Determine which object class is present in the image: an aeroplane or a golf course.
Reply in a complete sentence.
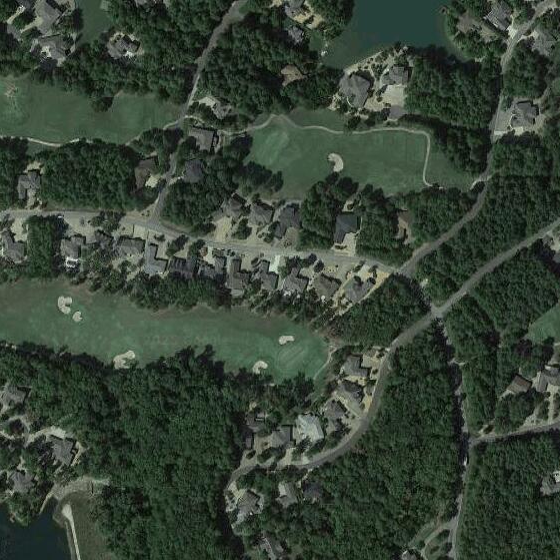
There is a golf course in the scene.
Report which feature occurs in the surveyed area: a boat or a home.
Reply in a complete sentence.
There is a home in the scene.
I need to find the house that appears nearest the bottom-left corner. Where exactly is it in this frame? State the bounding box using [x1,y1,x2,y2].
[8,471,35,492]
